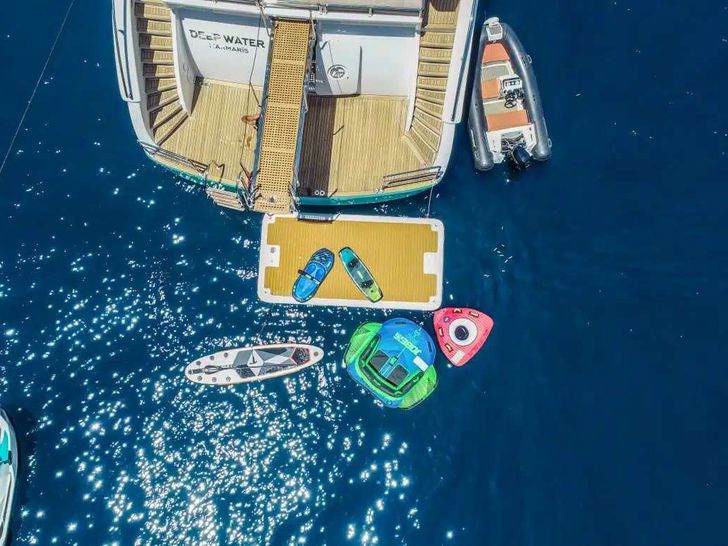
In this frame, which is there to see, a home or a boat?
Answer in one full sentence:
It is a boat that can be seen here.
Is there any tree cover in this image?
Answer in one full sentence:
No, the scene doesn't show any tree cover.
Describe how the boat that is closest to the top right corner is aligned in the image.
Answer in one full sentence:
What the image shows is the boat that is closest to the top right corner lying vertically.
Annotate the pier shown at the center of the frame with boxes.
[259,213,444,310]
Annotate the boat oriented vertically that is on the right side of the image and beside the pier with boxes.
[470,16,551,171]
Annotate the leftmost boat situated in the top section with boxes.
[113,0,481,215]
